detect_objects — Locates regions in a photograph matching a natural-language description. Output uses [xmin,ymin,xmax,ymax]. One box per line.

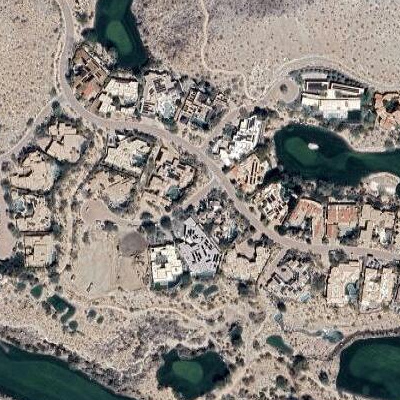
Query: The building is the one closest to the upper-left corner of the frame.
[69,44,109,101]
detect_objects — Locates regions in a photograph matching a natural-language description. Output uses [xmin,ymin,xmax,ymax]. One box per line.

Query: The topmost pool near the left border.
[11,193,32,217]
